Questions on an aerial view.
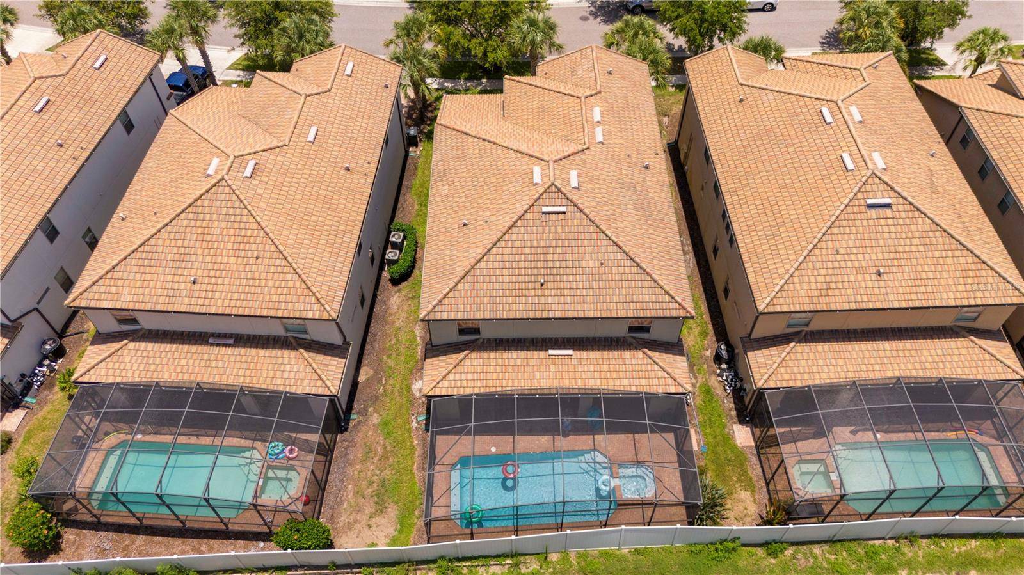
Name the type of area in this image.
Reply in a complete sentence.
This looks like a residential area.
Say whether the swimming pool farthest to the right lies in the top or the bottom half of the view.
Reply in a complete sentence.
It is in the bottom half that the swimming pool farthest to the right appears.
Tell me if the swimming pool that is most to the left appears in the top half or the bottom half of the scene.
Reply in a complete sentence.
It is in the bottom half that the swimming pool that is most to the left appears.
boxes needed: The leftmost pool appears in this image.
[85,434,270,504]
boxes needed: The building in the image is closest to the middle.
[416,43,697,413]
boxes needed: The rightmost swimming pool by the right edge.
[823,433,1012,494]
